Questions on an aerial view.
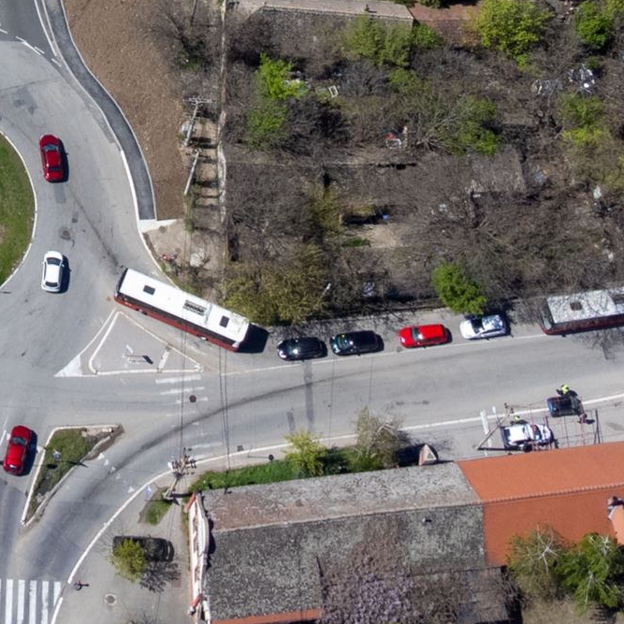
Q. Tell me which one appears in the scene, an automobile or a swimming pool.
automobile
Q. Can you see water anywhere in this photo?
No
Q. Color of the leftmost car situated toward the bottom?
red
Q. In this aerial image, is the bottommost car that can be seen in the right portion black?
No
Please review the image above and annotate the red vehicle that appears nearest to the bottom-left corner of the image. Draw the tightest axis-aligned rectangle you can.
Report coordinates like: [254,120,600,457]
[4,427,33,477]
